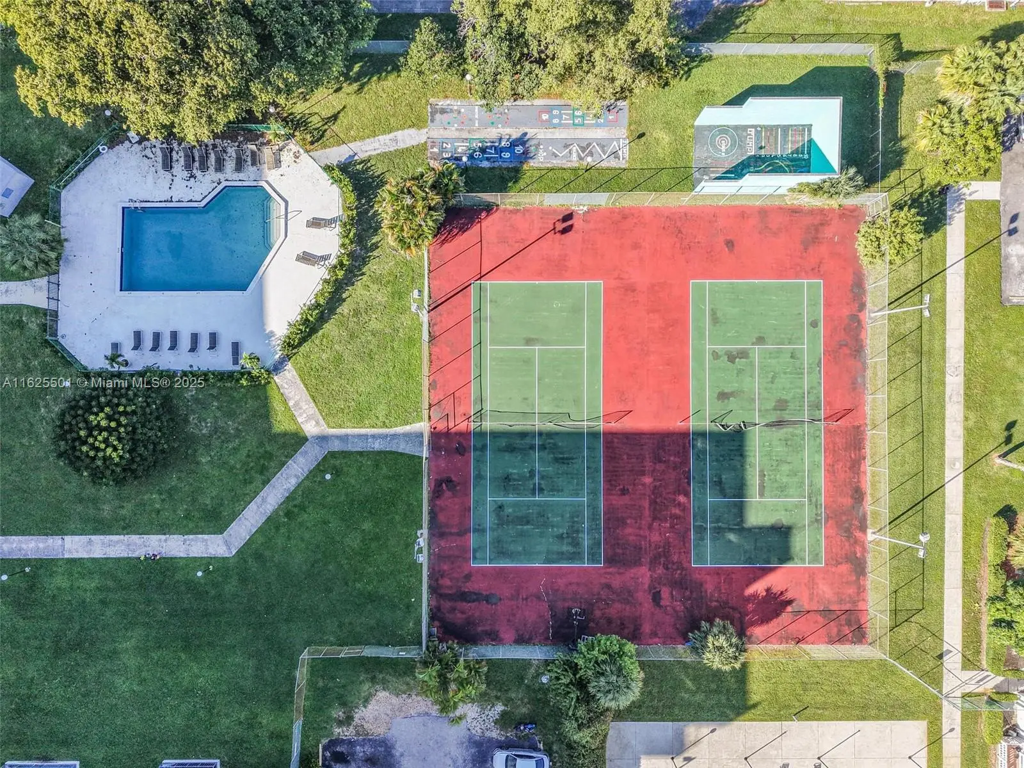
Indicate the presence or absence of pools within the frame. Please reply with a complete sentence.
Yes, this view includes a pool.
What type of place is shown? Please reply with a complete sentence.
The area seen from above is a sports ground.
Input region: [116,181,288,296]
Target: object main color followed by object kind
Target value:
blue swimming pool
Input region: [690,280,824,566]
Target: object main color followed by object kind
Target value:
green tennis court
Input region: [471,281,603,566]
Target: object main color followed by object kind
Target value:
green tennis court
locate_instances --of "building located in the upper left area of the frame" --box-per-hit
[0,157,38,217]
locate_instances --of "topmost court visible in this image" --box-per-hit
[694,94,843,193]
